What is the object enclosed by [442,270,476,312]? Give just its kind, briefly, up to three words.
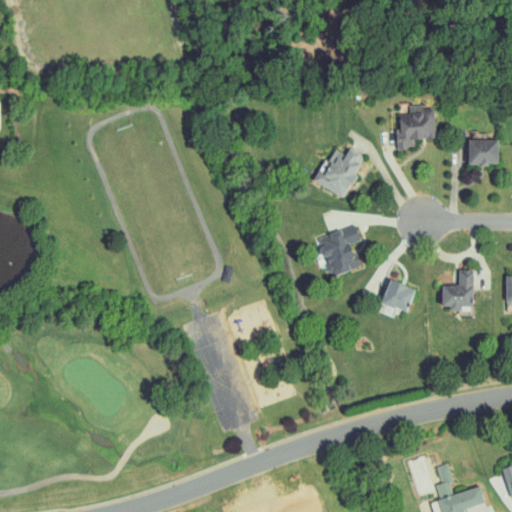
house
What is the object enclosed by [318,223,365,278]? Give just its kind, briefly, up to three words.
house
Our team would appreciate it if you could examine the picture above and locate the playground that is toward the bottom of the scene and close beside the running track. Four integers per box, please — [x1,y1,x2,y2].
[228,300,297,406]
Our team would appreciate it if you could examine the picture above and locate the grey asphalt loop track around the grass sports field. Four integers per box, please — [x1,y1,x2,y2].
[86,106,222,317]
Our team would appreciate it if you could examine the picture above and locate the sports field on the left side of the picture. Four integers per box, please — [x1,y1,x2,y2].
[91,110,217,296]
